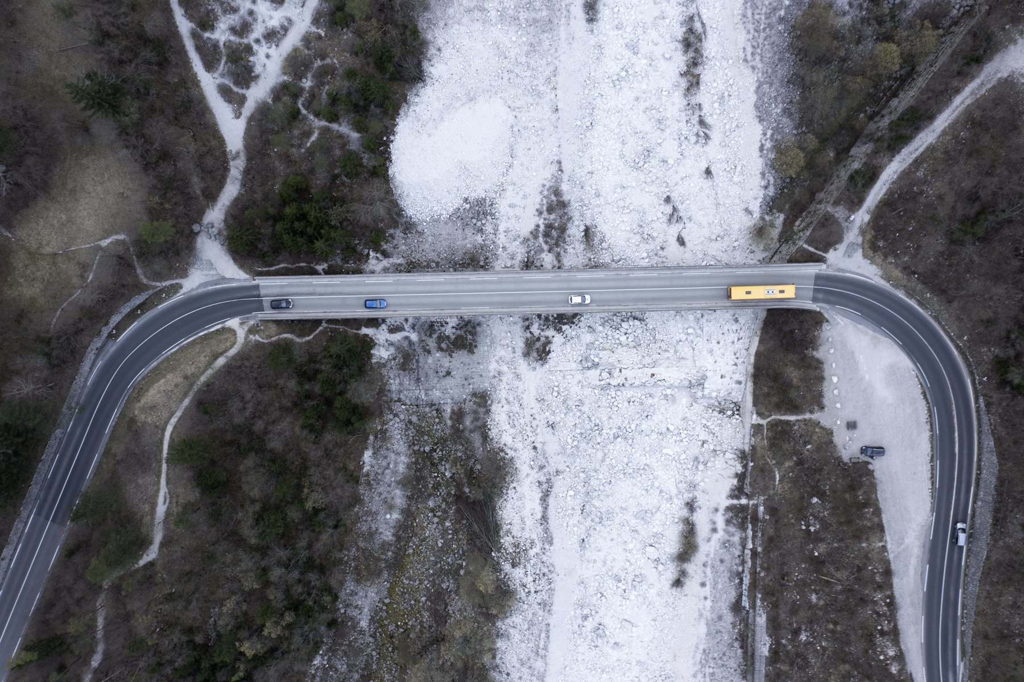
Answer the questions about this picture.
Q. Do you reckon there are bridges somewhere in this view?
Yes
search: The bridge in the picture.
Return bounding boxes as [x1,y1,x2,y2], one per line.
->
[255,263,822,319]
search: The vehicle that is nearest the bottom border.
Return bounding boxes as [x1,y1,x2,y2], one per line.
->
[950,522,966,547]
